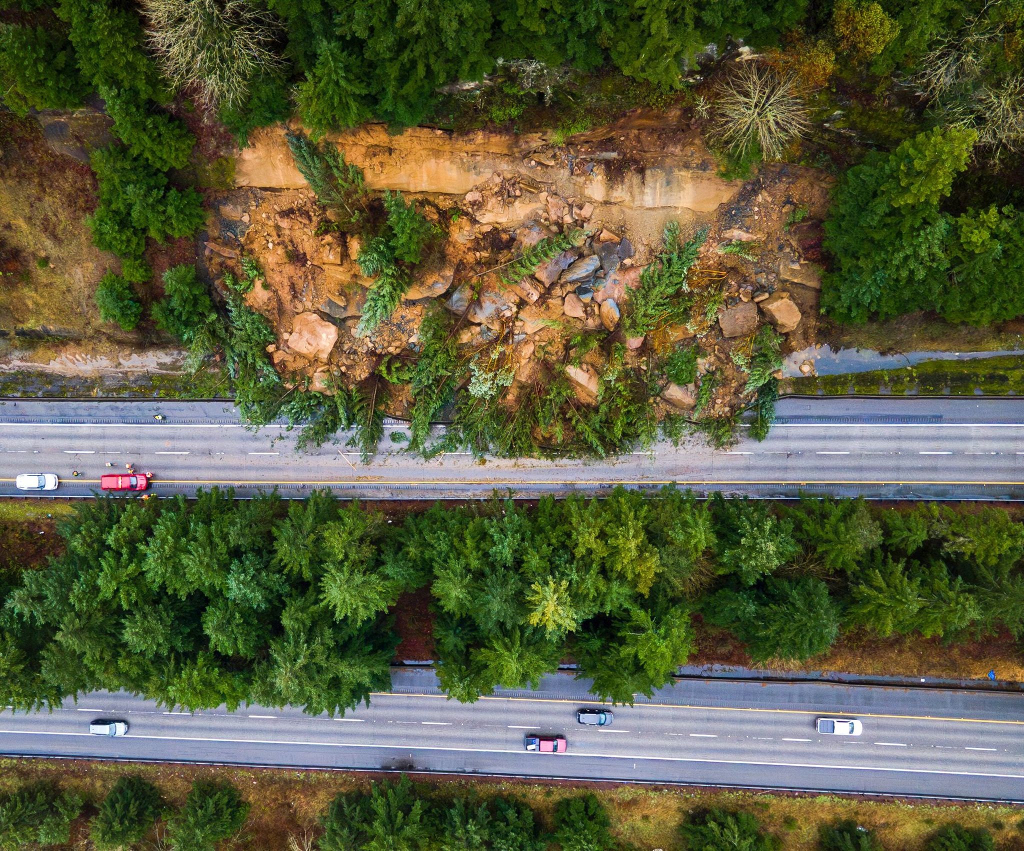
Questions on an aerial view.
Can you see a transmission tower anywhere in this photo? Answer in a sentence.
No, I can't see a single transmission tower in this photo.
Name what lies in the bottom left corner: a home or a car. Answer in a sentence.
It is a car that can be seen in the bottom left corner.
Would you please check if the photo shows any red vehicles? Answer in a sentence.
Yes, looking at the shot, I can spot a red vehicle.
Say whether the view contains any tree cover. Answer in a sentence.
Yes, there is tree cover in the image.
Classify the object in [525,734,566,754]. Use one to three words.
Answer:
vehicle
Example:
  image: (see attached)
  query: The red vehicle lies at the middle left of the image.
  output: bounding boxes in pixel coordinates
[99,473,151,492]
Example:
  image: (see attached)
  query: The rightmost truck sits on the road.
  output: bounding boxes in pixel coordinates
[815,716,861,737]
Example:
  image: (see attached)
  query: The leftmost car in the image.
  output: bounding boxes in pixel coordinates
[16,472,62,491]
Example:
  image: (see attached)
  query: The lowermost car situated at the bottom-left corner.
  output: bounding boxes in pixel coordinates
[91,718,130,737]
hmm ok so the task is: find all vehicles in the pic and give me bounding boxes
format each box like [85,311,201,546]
[576,708,612,727]
[815,716,861,737]
[525,734,566,754]
[99,473,151,492]
[91,718,130,737]
[16,472,62,491]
